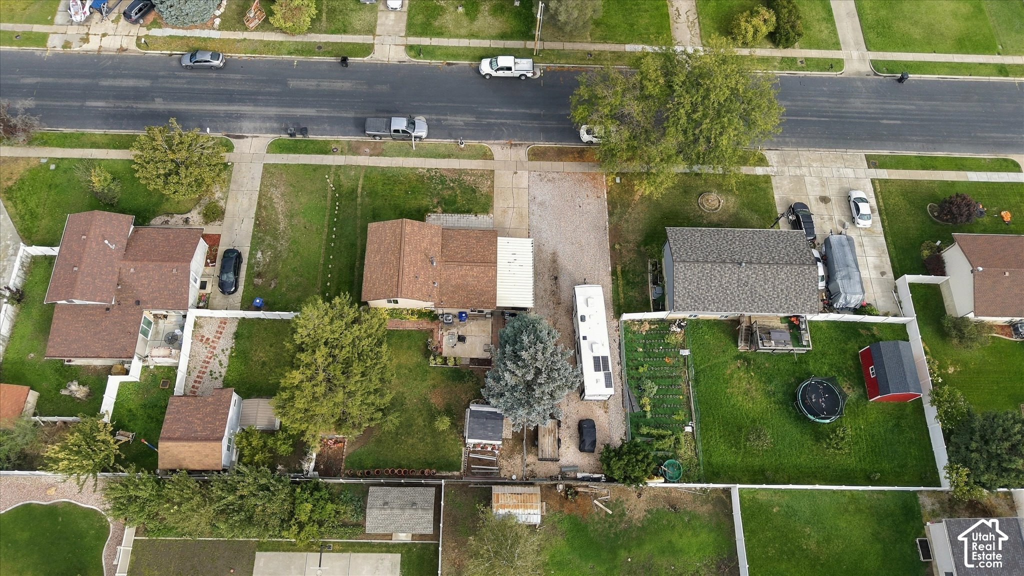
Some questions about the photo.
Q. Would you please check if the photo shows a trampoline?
Yes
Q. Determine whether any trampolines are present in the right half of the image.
Yes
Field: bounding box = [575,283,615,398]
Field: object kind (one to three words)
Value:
trailer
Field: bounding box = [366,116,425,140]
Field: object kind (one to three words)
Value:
truck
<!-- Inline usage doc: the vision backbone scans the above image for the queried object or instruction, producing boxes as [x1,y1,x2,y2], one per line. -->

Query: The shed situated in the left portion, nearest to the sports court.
[365,485,436,536]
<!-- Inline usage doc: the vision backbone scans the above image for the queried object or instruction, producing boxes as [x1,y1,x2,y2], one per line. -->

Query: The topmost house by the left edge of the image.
[41,210,209,364]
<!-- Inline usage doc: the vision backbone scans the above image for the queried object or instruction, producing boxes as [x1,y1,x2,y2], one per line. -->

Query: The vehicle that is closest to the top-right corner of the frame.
[850,187,879,228]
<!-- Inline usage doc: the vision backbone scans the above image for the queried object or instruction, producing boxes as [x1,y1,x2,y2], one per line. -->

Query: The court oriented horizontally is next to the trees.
[256,552,400,576]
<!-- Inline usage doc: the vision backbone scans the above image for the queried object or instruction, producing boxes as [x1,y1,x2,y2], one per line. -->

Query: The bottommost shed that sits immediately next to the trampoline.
[859,339,922,402]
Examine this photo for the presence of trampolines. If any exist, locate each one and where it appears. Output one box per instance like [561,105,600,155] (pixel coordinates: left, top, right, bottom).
[791,375,851,422]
